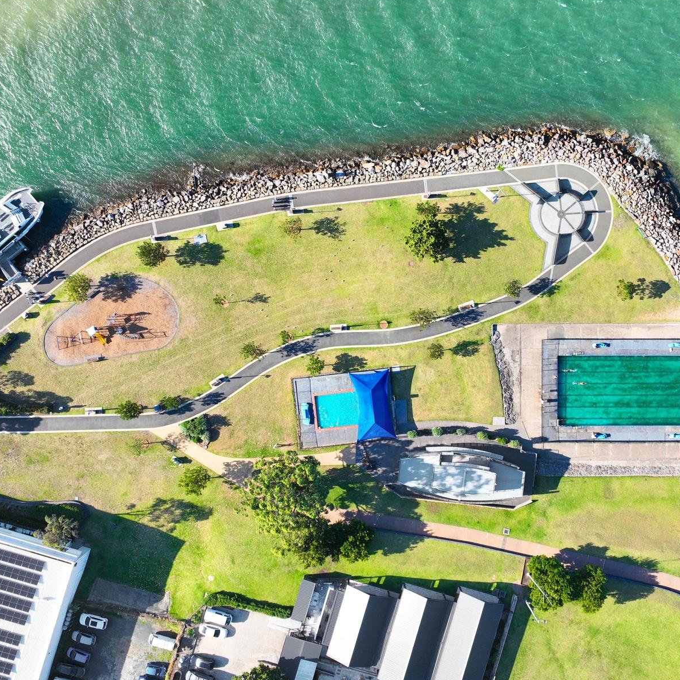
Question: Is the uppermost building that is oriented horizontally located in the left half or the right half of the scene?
right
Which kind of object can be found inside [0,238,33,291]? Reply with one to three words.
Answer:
pier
